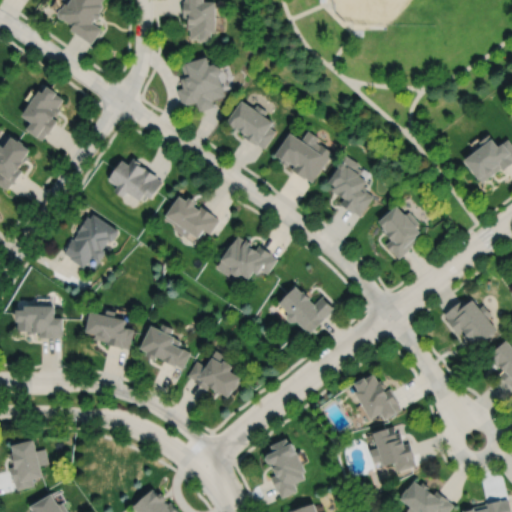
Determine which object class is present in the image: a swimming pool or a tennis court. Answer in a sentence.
The image shows a swimming pool.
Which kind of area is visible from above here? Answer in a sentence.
The area seen from above is a residential area.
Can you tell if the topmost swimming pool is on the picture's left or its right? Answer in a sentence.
The topmost swimming pool sits on the right side.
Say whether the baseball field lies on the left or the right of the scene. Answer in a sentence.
The baseball field sits on the right side.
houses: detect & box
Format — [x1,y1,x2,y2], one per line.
[85,314,134,350]
[229,102,276,151]
[108,159,162,205]
[214,238,278,283]
[30,488,78,512]
[396,482,454,512]
[58,0,105,44]
[354,377,402,420]
[494,336,512,385]
[378,208,420,259]
[23,87,63,140]
[372,428,416,474]
[133,488,188,512]
[462,501,512,512]
[0,138,28,189]
[190,352,240,396]
[326,156,376,214]
[182,0,216,43]
[64,214,116,268]
[276,132,331,182]
[464,138,512,182]
[445,300,496,342]
[12,441,50,491]
[266,441,308,498]
[180,58,229,111]
[279,286,334,330]
[16,306,64,339]
[140,326,192,368]
[166,197,218,240]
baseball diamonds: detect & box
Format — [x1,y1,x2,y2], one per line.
[331,0,436,28]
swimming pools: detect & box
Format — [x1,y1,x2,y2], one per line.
[345,439,376,476]
[324,400,353,431]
